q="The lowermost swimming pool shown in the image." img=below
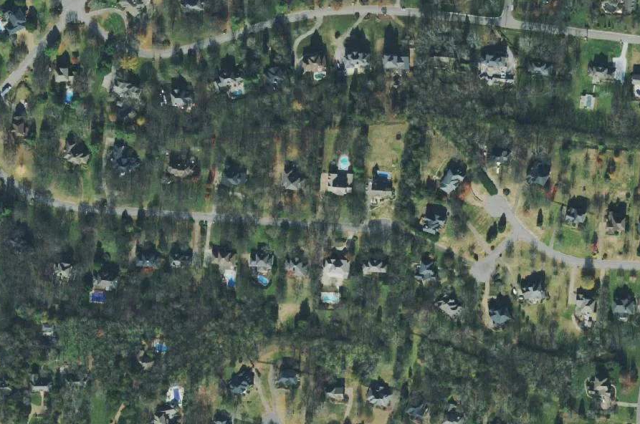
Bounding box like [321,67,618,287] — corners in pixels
[168,385,183,405]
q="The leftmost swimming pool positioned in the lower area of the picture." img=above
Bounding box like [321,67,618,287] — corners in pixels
[90,289,106,303]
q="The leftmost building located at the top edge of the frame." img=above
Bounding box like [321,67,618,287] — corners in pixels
[0,8,27,30]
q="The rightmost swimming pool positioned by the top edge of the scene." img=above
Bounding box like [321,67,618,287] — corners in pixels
[599,1,619,15]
